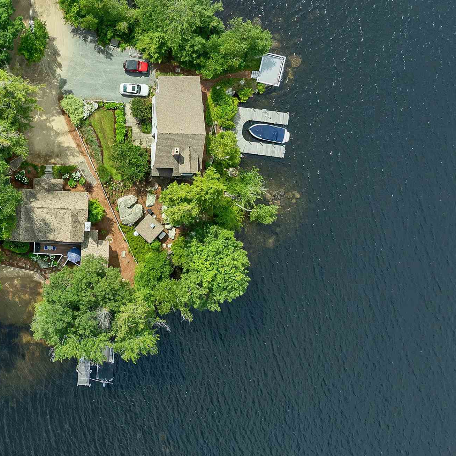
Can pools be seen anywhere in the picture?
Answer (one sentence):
No, no pool can be seen from above.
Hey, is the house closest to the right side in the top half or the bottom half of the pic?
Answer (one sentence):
Seen from above, the house closest to the right side lies in the top half of the view.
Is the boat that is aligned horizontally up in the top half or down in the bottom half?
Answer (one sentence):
The boat that is aligned horizontally is in the top half of the image.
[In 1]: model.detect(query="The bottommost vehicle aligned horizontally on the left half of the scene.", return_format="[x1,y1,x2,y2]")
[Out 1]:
[119,84,149,97]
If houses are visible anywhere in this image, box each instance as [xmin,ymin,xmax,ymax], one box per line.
[150,75,206,177]
[13,177,107,271]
